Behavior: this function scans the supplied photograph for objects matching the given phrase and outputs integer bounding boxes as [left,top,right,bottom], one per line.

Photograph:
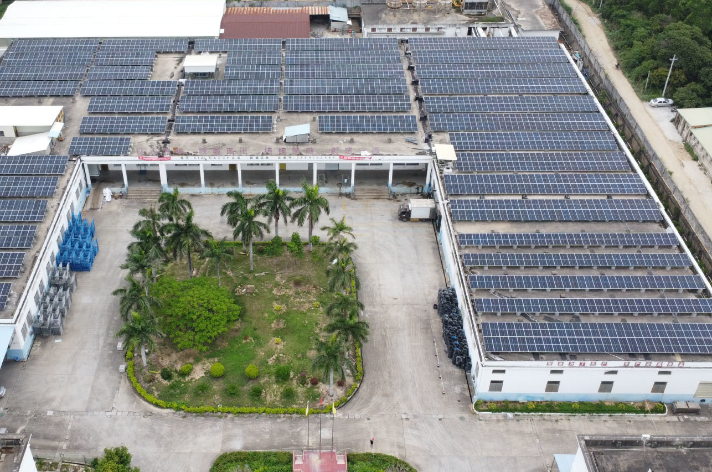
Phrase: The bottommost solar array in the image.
[482,323,712,355]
